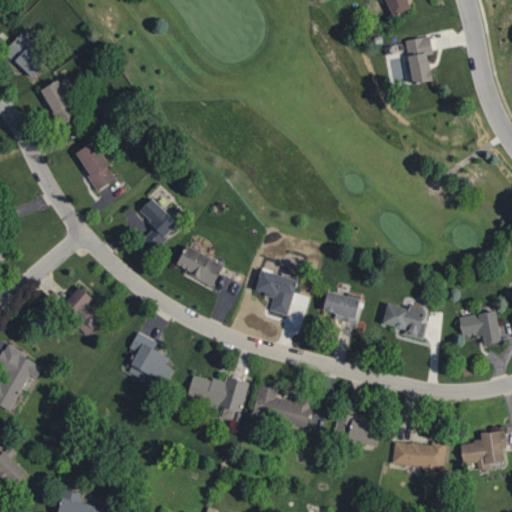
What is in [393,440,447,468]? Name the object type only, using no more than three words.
house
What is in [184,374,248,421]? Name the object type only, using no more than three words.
house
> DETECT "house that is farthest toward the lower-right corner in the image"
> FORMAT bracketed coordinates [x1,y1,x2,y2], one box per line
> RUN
[460,432,508,471]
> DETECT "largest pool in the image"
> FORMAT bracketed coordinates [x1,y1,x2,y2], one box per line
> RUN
[390,58,405,82]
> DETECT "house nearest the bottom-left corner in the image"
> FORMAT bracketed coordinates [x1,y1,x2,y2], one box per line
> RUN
[0,445,30,484]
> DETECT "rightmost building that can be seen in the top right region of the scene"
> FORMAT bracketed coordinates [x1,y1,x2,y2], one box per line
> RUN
[406,36,434,84]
